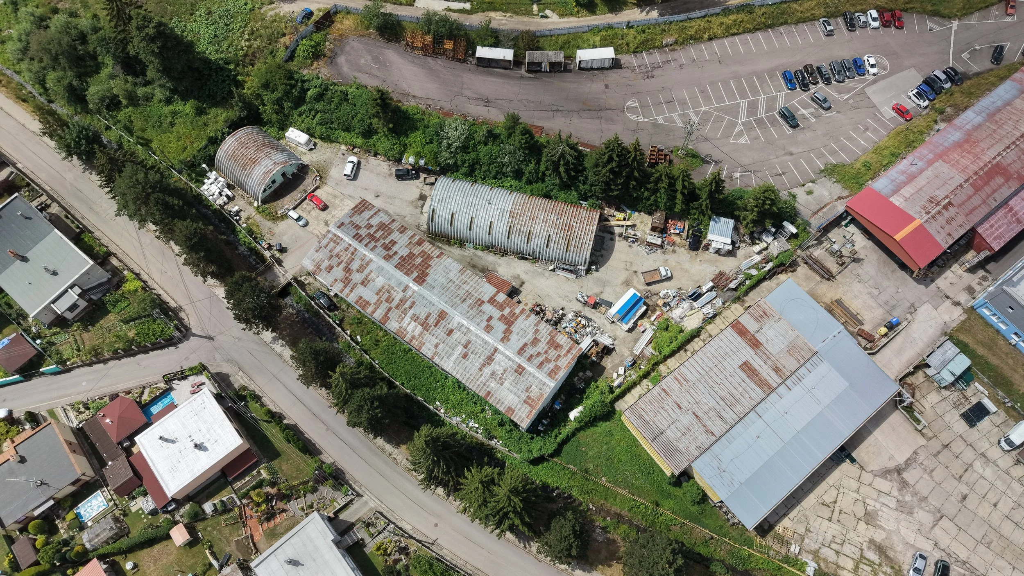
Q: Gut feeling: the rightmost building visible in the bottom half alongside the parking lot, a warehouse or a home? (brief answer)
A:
warehouse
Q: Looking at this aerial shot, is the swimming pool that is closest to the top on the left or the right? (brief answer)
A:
left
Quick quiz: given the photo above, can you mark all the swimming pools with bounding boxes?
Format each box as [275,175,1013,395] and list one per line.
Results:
[74,491,108,523]
[140,391,177,421]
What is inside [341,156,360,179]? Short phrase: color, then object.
white car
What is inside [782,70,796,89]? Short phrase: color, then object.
blue car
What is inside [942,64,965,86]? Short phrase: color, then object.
black car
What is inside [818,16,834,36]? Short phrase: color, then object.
gray car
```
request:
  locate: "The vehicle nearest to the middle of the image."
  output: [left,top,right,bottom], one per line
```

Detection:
[578,291,611,310]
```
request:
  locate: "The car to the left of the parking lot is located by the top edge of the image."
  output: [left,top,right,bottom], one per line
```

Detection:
[295,5,314,25]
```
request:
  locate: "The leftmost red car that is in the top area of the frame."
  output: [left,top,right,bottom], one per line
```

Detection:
[305,193,326,212]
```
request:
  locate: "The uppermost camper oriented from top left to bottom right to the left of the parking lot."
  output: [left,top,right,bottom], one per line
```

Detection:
[283,125,316,151]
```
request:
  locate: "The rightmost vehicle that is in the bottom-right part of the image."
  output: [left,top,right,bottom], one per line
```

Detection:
[997,425,1024,452]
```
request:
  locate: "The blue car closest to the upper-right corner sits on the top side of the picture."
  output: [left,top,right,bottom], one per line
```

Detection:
[915,82,937,101]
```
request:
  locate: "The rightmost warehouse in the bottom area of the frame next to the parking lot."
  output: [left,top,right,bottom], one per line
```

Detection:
[618,278,900,531]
